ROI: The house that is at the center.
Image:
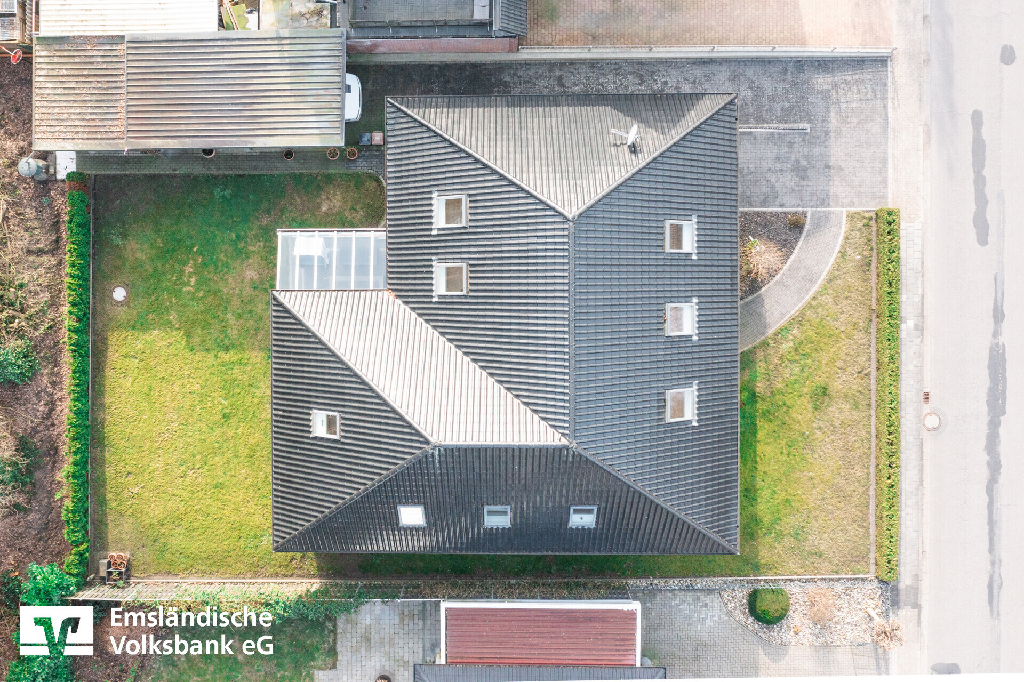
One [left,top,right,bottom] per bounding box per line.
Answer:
[270,92,741,555]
